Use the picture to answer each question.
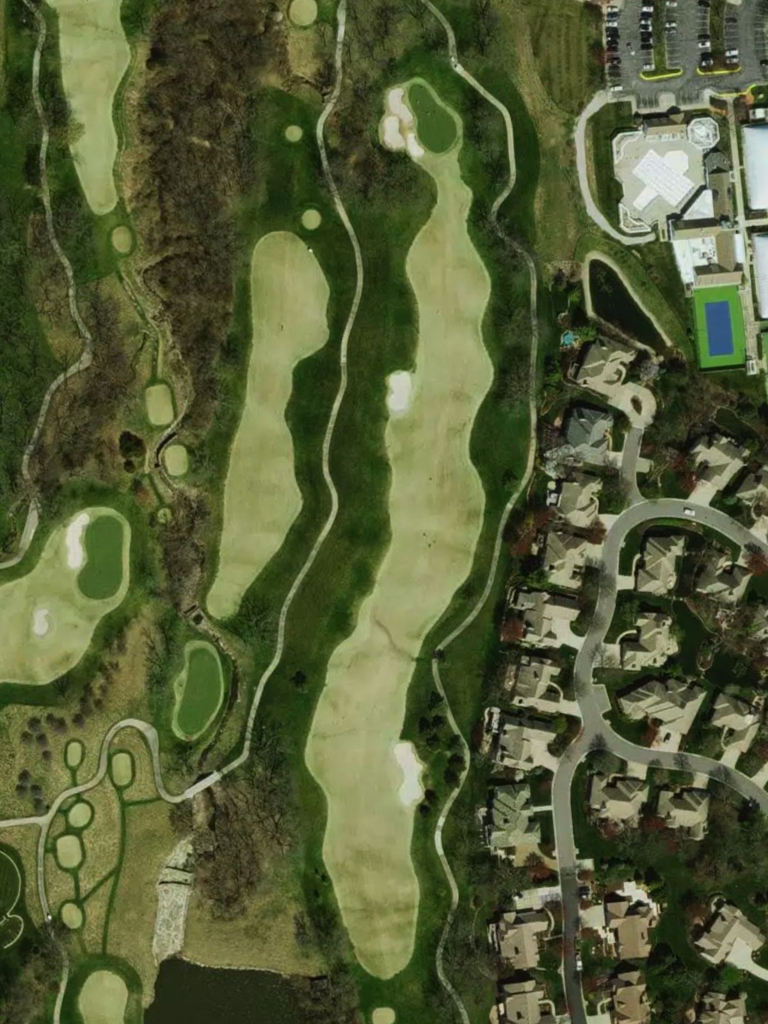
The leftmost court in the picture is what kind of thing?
tennis court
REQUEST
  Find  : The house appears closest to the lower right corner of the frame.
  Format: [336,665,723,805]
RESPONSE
[705,991,749,1024]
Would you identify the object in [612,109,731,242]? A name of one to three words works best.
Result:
building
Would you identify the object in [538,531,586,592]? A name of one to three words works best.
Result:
house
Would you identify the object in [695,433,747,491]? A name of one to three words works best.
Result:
house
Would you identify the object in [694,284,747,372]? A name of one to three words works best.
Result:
tennis court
